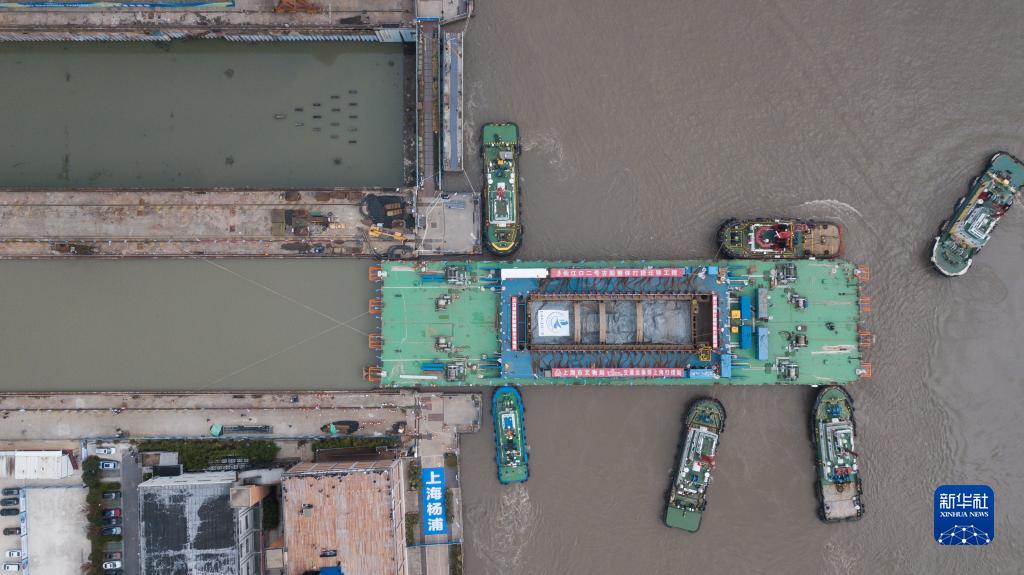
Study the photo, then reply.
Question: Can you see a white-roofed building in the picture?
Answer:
Yes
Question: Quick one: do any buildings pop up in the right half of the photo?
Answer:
No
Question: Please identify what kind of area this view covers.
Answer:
port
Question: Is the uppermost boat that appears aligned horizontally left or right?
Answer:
right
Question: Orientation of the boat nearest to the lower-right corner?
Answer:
vertically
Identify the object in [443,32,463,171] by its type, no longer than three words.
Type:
pier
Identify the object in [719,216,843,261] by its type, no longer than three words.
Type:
boat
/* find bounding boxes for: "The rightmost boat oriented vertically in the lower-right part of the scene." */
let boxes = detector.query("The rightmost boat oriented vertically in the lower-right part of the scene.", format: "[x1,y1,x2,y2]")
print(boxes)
[812,386,866,521]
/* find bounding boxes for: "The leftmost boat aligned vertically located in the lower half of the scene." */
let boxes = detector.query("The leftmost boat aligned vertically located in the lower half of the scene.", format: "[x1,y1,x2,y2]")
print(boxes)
[491,386,529,484]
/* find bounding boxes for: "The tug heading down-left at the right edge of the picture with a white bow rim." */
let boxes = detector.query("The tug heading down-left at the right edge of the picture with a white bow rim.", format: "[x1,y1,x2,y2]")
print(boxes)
[930,147,1024,280]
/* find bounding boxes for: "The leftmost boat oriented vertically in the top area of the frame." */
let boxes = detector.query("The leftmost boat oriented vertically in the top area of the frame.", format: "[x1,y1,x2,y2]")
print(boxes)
[479,123,523,256]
